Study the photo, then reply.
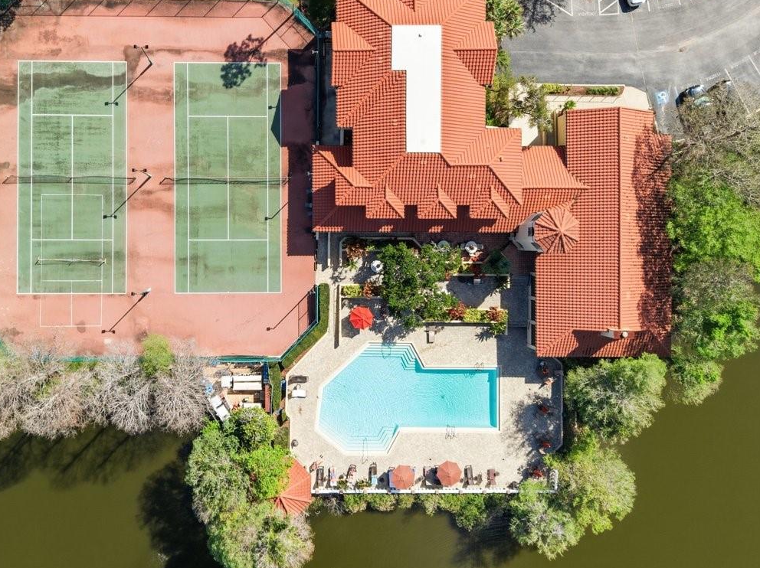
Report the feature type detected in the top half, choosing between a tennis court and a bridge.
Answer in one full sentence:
It is a tennis court that can be seen in the top half.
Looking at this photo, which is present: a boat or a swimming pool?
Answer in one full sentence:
Visible in the photo is a swimming pool.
